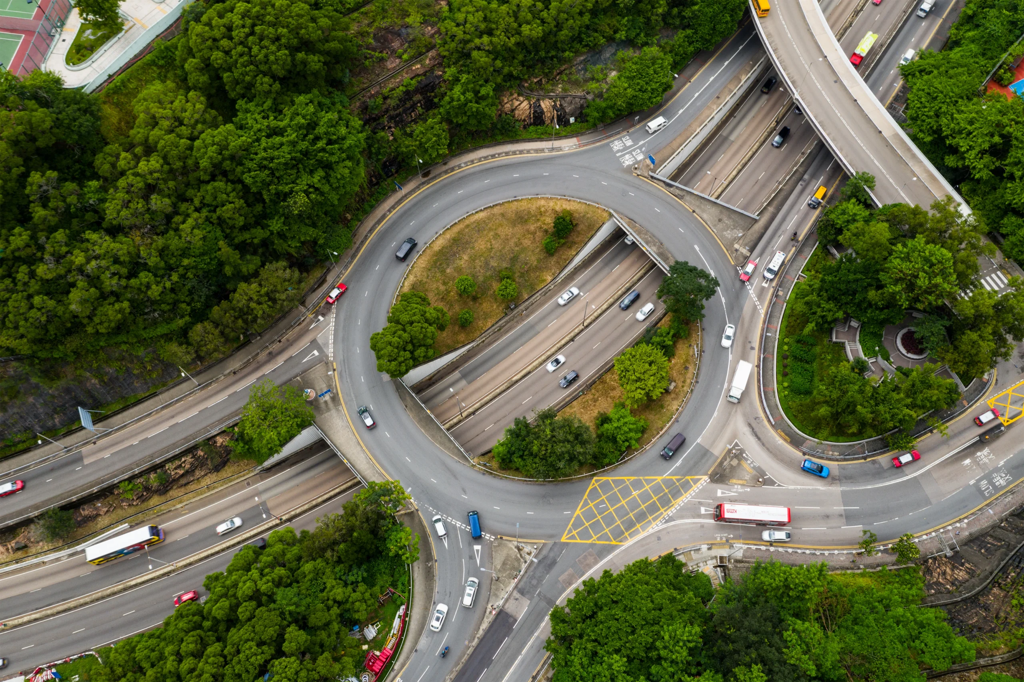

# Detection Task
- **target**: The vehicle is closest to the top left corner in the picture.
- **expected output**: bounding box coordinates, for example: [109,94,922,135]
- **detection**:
[325,283,350,306]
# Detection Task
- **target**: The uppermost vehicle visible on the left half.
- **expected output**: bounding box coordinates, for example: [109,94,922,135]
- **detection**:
[395,238,417,263]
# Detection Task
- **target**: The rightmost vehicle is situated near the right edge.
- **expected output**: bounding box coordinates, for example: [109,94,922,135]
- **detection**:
[972,408,1001,428]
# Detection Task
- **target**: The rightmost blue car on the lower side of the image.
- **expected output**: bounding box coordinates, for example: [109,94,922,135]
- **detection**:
[799,460,829,479]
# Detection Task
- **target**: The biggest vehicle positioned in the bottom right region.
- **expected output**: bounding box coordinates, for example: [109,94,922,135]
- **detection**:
[711,503,792,527]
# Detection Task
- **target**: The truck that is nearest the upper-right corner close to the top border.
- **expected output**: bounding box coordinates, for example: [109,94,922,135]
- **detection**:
[914,0,936,22]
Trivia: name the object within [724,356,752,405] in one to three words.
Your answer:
truck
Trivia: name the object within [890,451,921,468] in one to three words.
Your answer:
car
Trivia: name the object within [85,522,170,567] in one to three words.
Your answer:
bus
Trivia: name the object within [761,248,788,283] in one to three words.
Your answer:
vehicle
